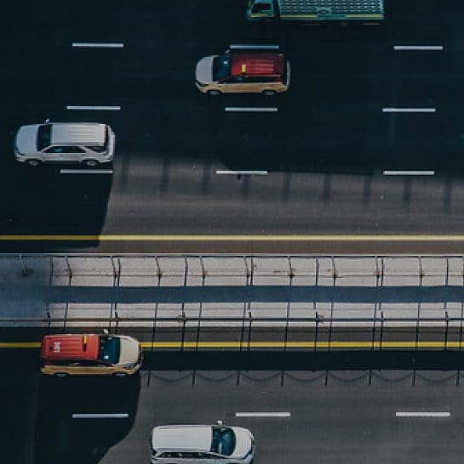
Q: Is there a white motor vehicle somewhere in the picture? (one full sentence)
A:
Yes, a white motor vehicle appears in the view.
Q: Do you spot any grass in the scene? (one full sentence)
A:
No, there is no grass in the image.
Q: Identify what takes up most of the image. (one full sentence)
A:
The largest share of the image is taken up by paved ground.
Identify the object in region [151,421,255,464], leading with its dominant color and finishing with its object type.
white car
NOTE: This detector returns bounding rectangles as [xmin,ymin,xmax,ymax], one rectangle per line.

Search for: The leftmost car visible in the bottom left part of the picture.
[42,329,143,378]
